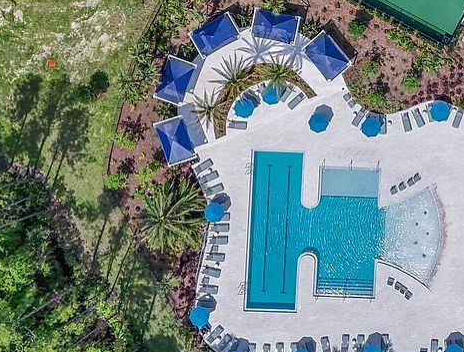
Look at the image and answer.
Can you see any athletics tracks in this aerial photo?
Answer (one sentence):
No, the scene contains no athletics track.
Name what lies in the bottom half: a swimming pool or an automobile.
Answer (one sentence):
Looking in the bottom half, you will find a swimming pool.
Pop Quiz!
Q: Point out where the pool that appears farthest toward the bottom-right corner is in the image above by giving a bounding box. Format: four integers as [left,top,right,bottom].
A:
[237,150,446,312]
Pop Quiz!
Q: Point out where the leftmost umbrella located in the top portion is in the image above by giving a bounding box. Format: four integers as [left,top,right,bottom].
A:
[234,97,256,117]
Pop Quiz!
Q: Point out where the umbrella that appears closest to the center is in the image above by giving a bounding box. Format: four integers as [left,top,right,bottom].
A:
[203,201,225,222]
